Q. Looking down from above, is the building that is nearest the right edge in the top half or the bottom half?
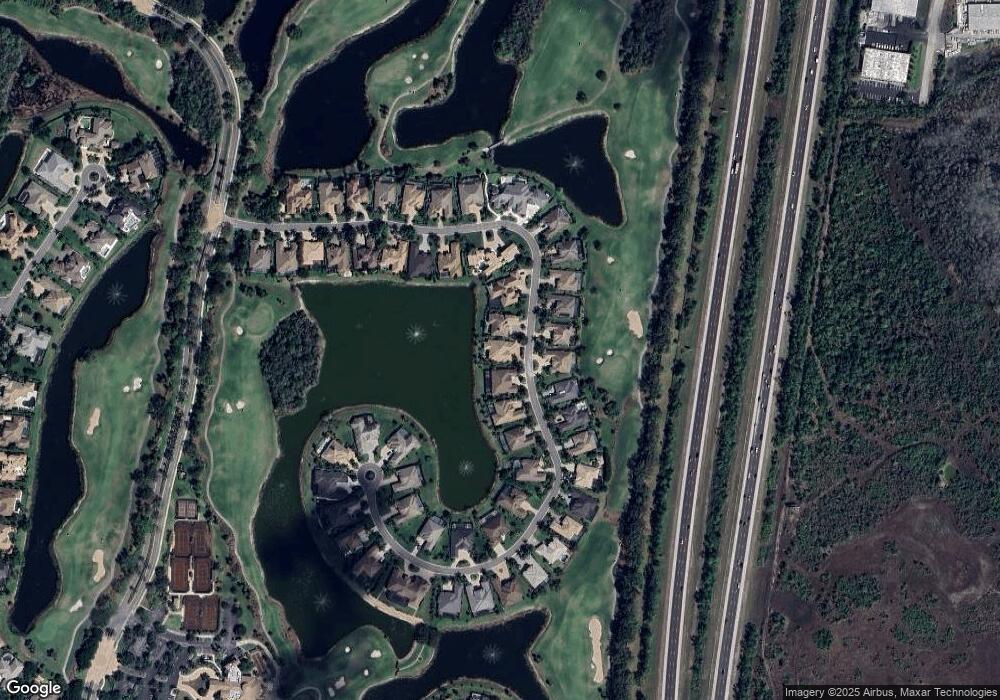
top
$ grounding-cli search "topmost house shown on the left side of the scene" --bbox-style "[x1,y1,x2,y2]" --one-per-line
[70,114,113,146]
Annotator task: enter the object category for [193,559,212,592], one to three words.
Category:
tennis court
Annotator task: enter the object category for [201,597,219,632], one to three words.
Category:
tennis court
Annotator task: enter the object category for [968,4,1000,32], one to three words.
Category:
building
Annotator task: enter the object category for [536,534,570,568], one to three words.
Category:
house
